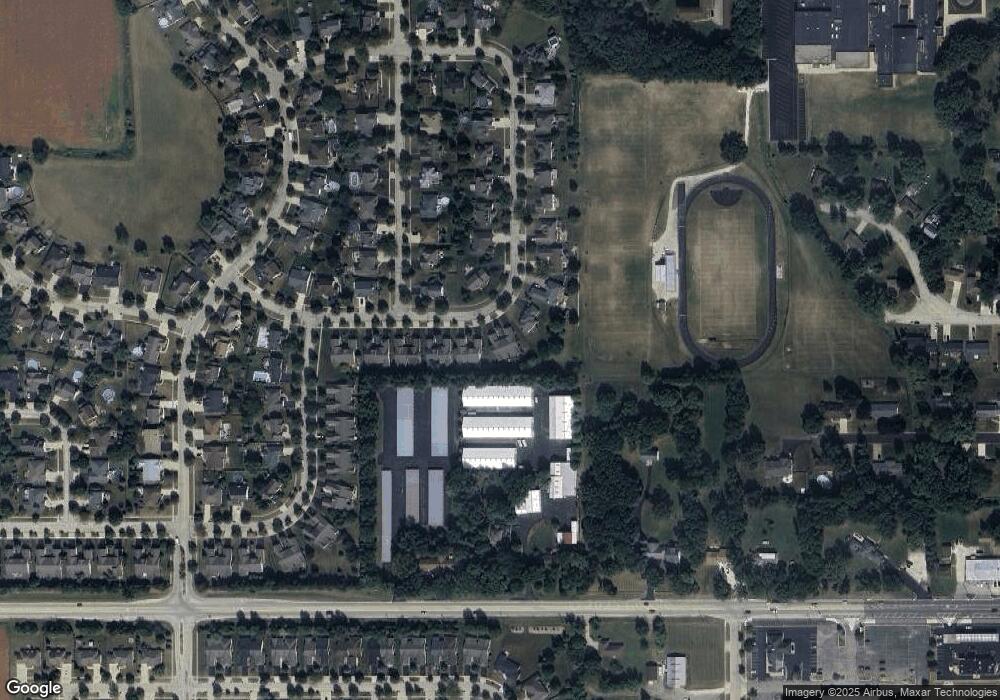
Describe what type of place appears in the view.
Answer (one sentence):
It's a residential area.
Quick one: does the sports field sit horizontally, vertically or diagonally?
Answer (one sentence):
In this picture, the sports field is oriented vertically.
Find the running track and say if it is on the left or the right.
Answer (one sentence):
The running track is on the right side of the image.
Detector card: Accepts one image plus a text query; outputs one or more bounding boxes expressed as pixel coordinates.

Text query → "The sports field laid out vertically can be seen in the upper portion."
[687,183,768,357]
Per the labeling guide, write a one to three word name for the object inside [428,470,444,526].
shed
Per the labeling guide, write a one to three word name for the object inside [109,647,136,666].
house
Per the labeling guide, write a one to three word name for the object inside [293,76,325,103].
house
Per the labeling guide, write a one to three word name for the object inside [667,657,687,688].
building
